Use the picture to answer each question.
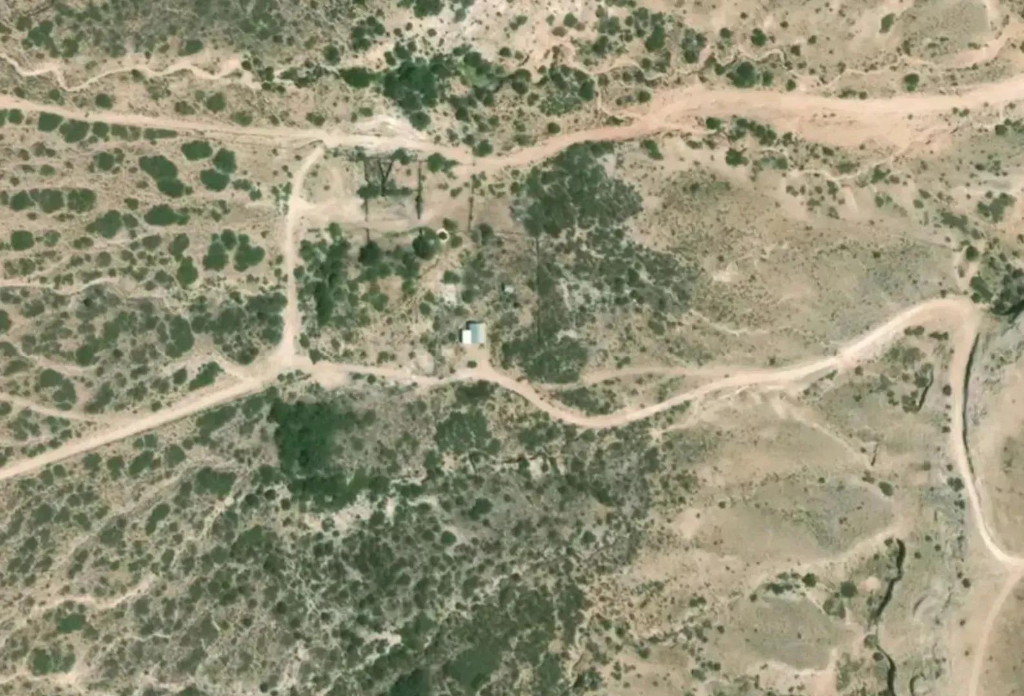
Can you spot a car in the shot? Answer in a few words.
No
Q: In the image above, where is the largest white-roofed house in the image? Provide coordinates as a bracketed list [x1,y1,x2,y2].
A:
[462,323,486,344]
